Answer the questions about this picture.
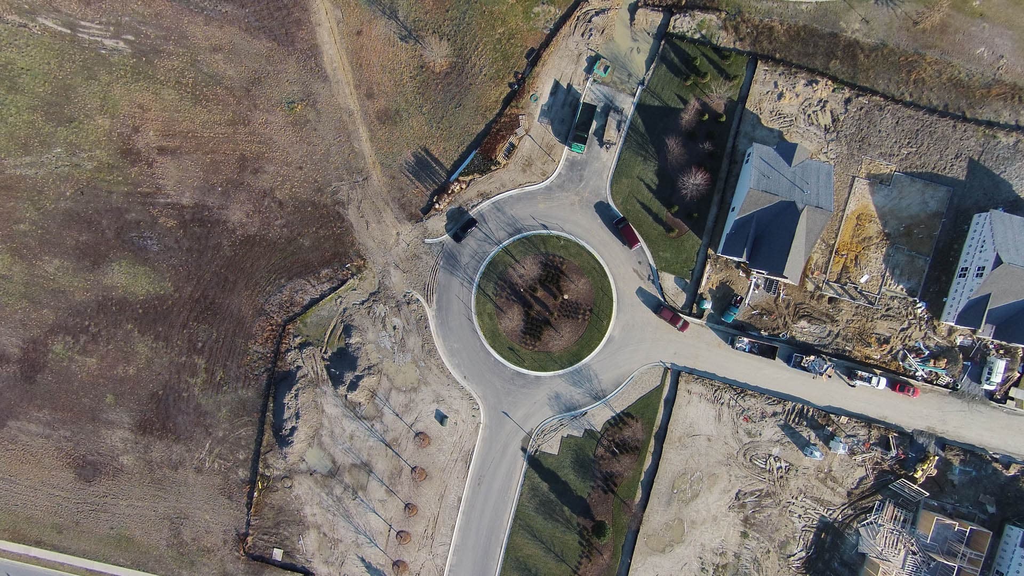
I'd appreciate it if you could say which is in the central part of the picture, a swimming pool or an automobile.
automobile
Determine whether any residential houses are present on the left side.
No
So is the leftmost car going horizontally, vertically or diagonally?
diagonally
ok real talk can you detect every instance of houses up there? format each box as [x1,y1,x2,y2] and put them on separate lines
[715,137,835,290]
[991,525,1024,576]
[940,205,1024,357]
[850,499,993,576]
